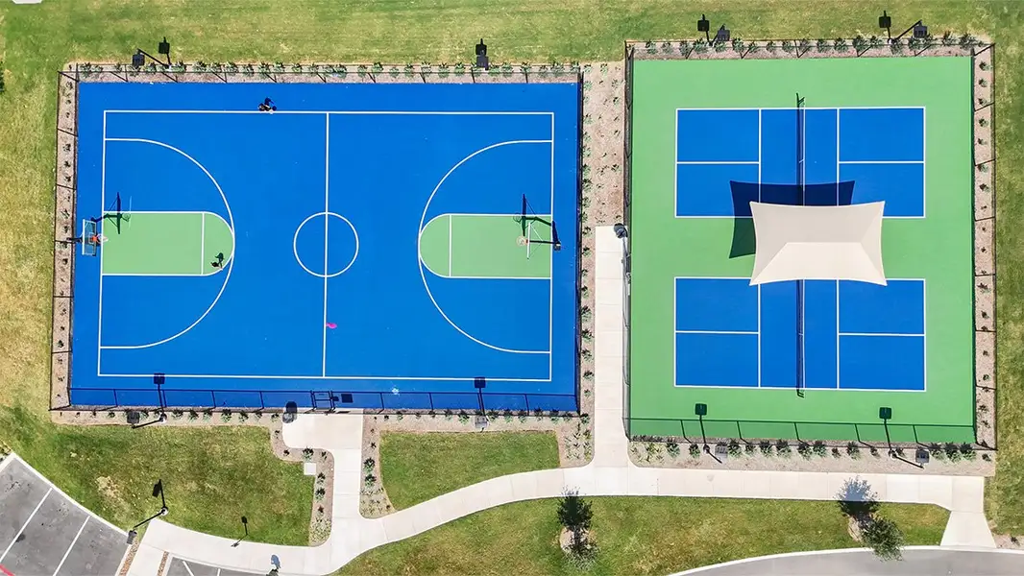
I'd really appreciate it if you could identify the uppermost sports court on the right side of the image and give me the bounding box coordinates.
[675,108,926,218]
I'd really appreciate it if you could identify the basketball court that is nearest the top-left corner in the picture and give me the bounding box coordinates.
[72,83,580,412]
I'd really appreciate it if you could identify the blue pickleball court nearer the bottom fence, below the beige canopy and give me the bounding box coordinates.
[674,277,925,391]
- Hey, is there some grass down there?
Yes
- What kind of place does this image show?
sports ground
